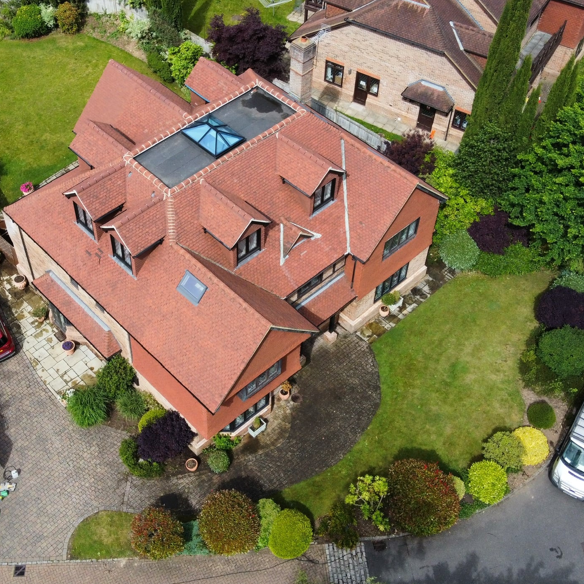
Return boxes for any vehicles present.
[0,309,18,367]
[545,401,584,514]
